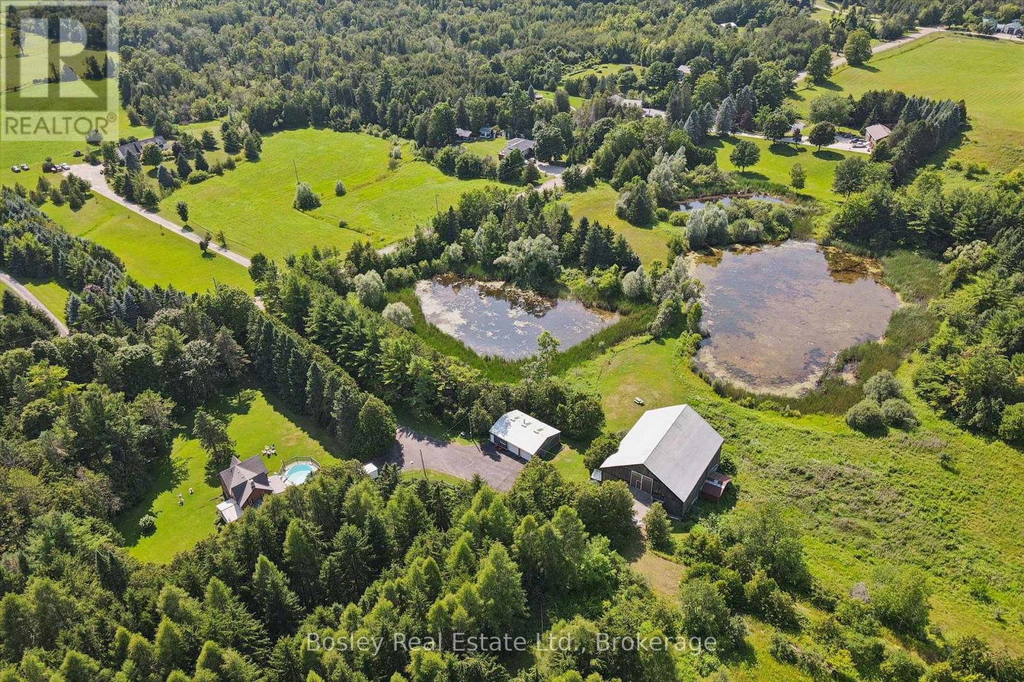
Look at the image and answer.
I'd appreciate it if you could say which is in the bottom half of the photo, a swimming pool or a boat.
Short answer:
swimming pool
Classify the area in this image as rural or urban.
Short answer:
rural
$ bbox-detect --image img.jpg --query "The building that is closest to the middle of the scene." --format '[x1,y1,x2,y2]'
[489,410,561,459]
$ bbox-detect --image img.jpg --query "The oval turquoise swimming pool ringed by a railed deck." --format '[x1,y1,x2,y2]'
[278,458,319,492]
